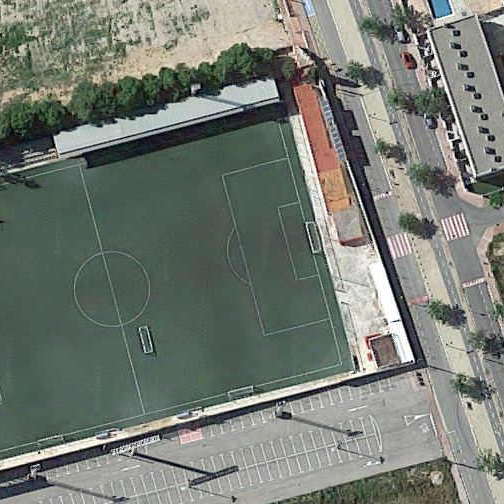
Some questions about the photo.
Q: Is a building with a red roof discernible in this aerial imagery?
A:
Yes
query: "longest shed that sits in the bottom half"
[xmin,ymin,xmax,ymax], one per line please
[369,263,415,366]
